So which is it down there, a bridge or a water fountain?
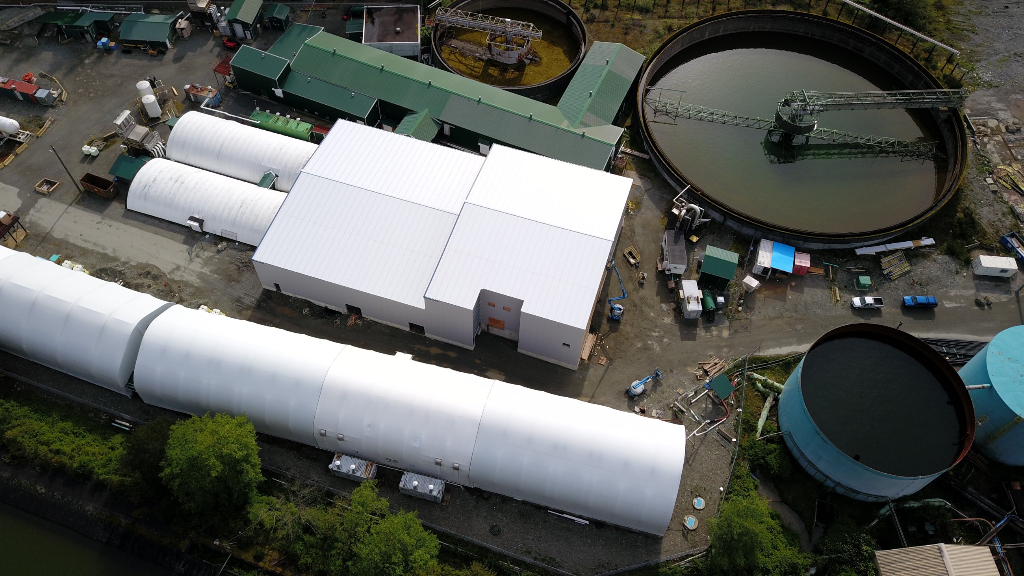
bridge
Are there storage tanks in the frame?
Yes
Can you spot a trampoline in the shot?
No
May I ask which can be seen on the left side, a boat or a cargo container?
cargo container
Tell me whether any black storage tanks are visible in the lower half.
Yes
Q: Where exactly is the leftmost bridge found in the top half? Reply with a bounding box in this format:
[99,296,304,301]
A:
[420,7,542,40]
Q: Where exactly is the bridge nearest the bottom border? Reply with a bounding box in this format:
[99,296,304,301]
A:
[648,88,967,165]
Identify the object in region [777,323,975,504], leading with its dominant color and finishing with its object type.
black storage tank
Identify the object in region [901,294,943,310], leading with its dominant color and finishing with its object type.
blue vehicle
